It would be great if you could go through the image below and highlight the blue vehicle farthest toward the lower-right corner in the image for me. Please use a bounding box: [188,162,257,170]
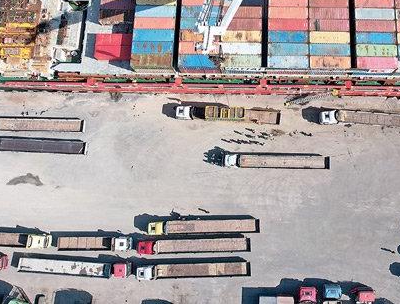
[322,280,343,304]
